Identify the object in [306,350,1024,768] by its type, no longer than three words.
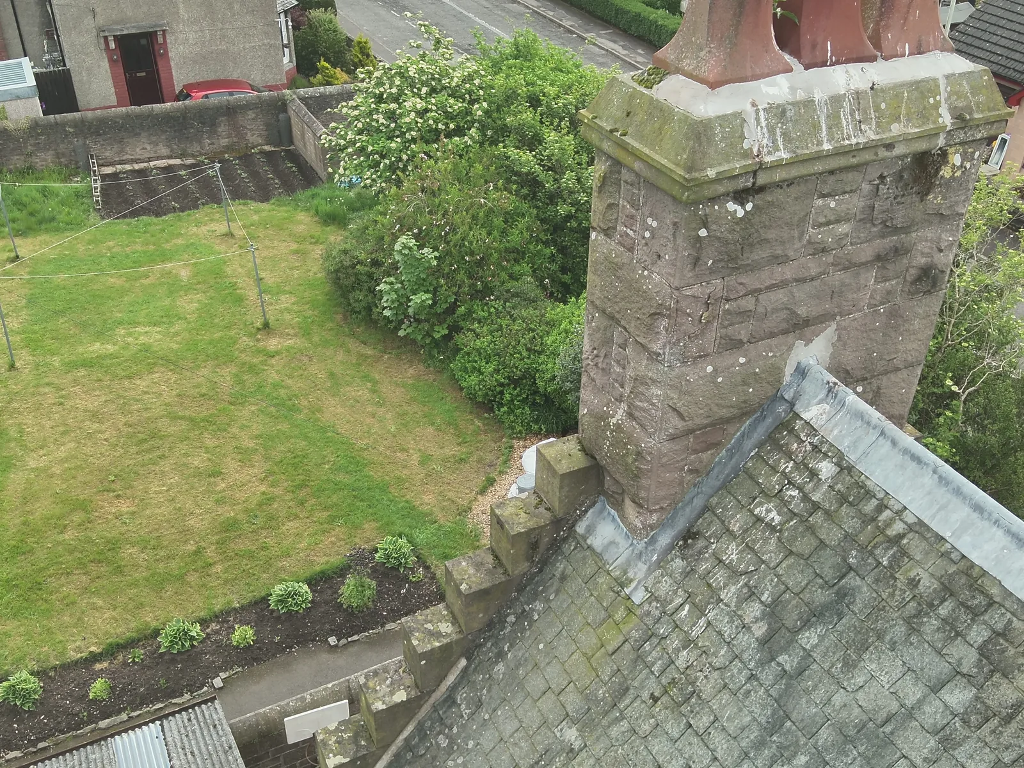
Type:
house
